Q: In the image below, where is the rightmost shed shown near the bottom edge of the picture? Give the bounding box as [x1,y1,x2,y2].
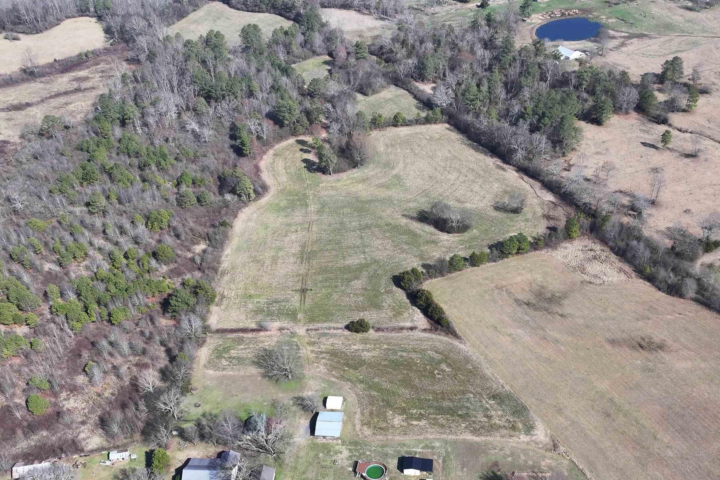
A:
[402,455,433,475]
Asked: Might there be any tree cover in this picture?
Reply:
Yes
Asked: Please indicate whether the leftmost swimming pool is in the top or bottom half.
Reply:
bottom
